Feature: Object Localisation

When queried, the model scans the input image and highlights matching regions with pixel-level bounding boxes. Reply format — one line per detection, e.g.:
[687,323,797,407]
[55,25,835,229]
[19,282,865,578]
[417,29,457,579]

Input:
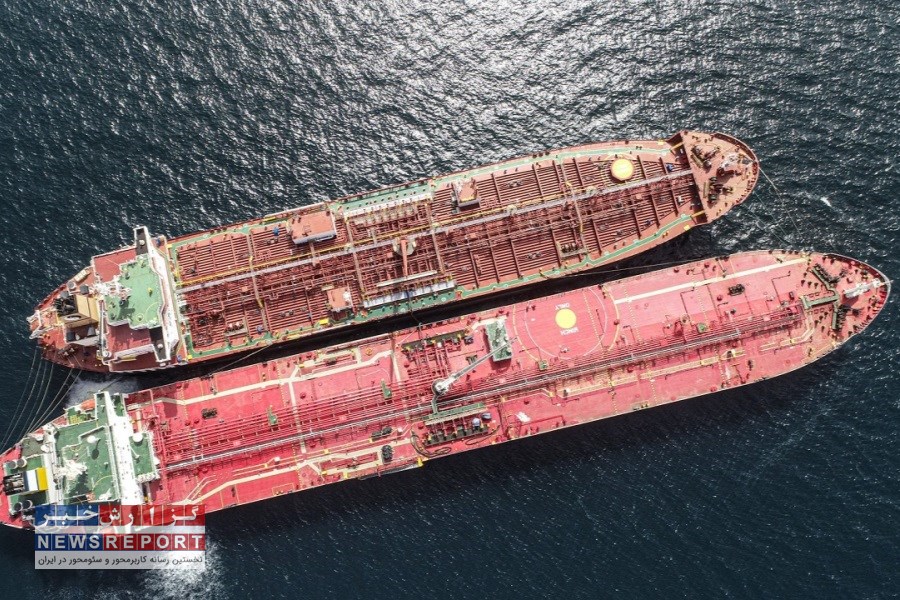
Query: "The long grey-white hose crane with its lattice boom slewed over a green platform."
[430,335,519,398]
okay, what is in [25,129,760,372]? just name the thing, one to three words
ship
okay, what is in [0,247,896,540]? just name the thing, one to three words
ship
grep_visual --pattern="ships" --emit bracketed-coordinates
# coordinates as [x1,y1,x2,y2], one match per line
[0,247,896,540]
[25,129,760,372]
